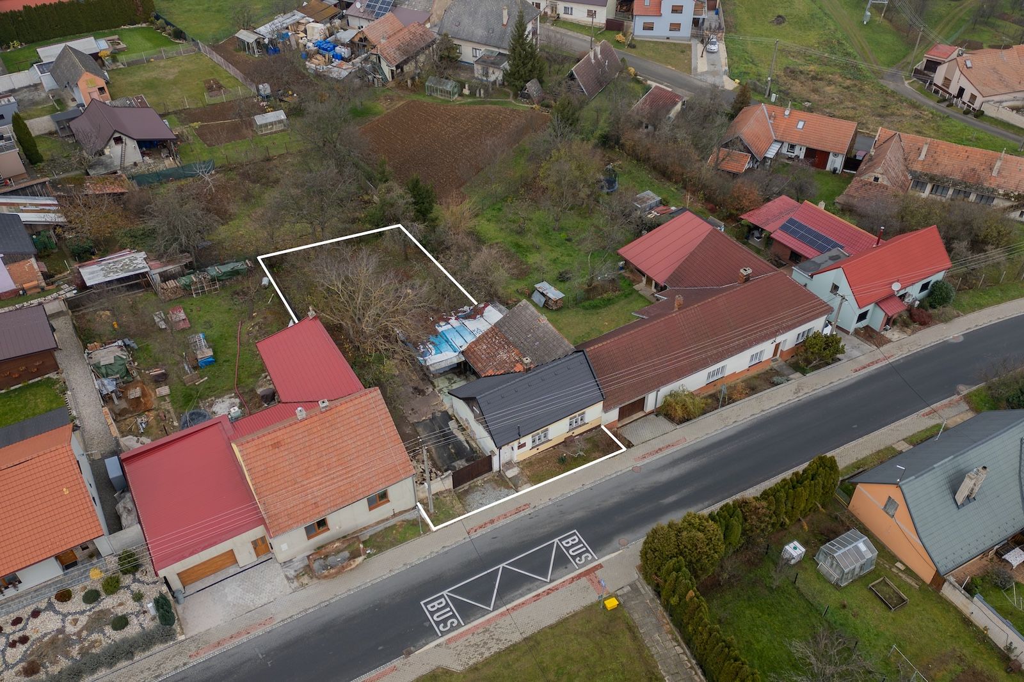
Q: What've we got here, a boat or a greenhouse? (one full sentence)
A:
There is a greenhouse in the scene.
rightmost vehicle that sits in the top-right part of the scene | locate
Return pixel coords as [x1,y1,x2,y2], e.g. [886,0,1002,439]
[856,144,871,159]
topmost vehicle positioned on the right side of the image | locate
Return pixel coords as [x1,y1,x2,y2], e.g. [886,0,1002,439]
[707,36,720,49]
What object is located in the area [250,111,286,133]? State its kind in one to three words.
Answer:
greenhouse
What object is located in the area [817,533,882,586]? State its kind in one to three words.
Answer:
greenhouse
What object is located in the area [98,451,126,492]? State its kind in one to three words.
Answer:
shed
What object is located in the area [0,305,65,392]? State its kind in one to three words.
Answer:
house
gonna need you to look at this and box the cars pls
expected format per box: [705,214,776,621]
[856,144,871,159]
[707,36,720,49]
